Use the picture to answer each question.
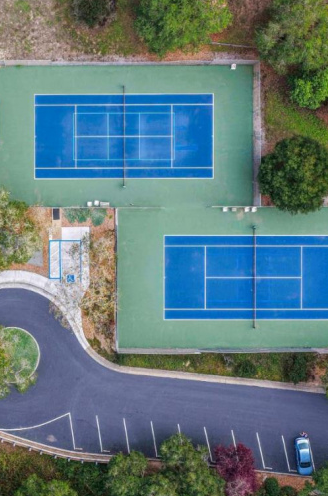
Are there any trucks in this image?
No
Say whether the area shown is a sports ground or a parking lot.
sports ground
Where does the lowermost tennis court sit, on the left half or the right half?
right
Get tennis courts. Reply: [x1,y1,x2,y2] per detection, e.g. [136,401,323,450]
[0,65,255,207]
[119,207,328,350]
